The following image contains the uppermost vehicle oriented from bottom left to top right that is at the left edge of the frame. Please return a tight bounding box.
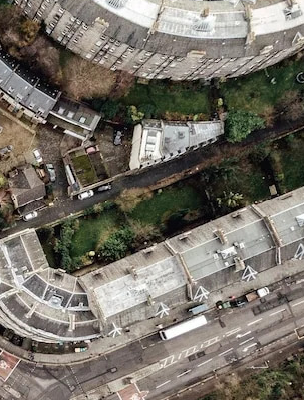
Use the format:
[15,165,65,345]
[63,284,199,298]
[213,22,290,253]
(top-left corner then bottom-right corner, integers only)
[0,141,17,156]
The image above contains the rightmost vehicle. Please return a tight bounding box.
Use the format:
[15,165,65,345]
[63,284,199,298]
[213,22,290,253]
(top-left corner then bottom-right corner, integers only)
[245,288,272,302]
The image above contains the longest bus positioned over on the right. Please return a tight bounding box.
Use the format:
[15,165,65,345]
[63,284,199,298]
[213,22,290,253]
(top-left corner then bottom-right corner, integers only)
[161,315,212,340]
